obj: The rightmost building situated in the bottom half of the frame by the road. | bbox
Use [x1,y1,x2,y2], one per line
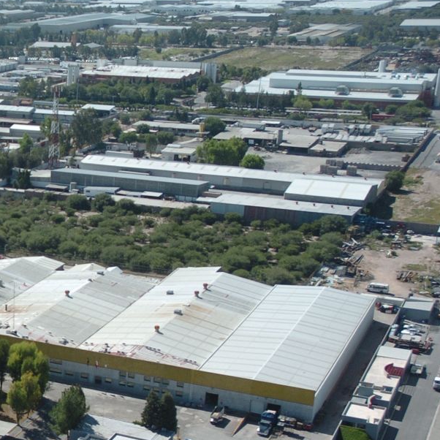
[399,298,437,335]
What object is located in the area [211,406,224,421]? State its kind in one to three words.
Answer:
vehicle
